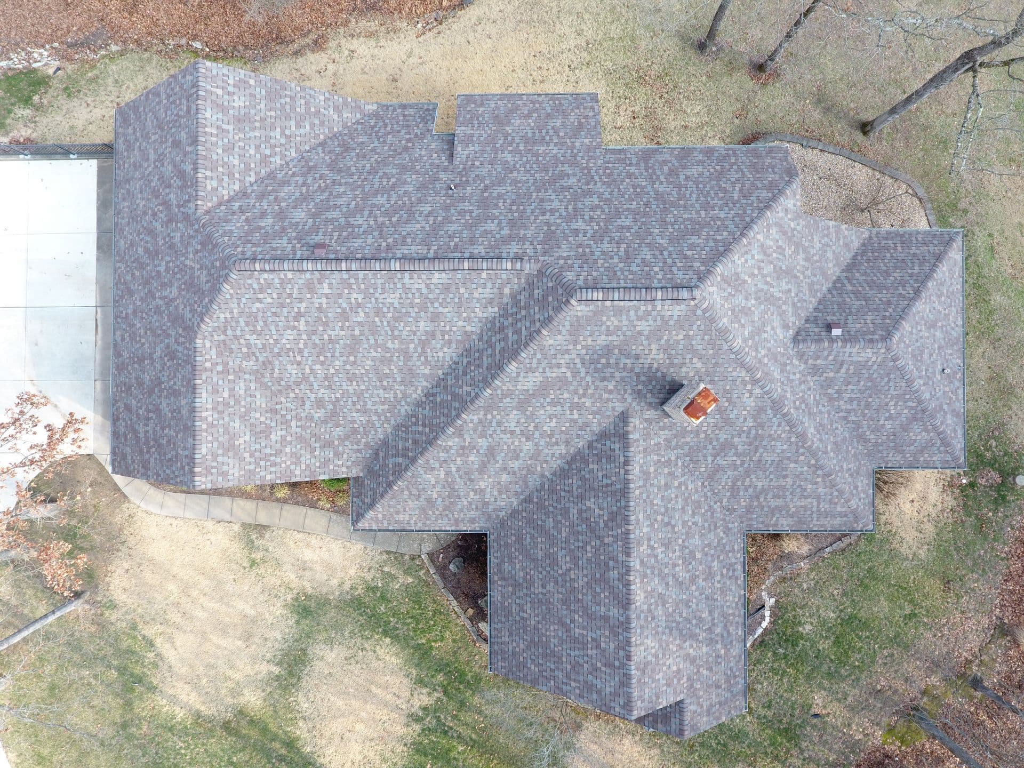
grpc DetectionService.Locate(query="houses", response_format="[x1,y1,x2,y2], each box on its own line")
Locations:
[108,57,969,739]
